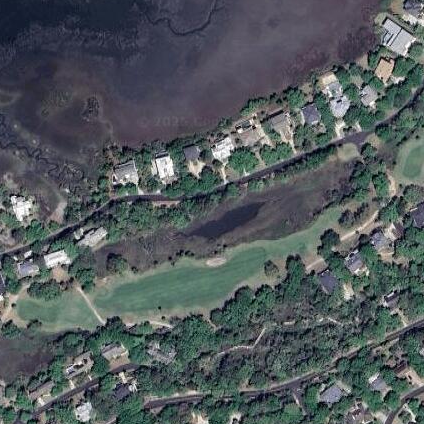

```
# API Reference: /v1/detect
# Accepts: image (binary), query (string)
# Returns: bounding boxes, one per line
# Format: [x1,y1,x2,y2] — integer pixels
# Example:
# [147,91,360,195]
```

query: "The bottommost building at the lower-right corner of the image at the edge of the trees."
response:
[345,403,372,424]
